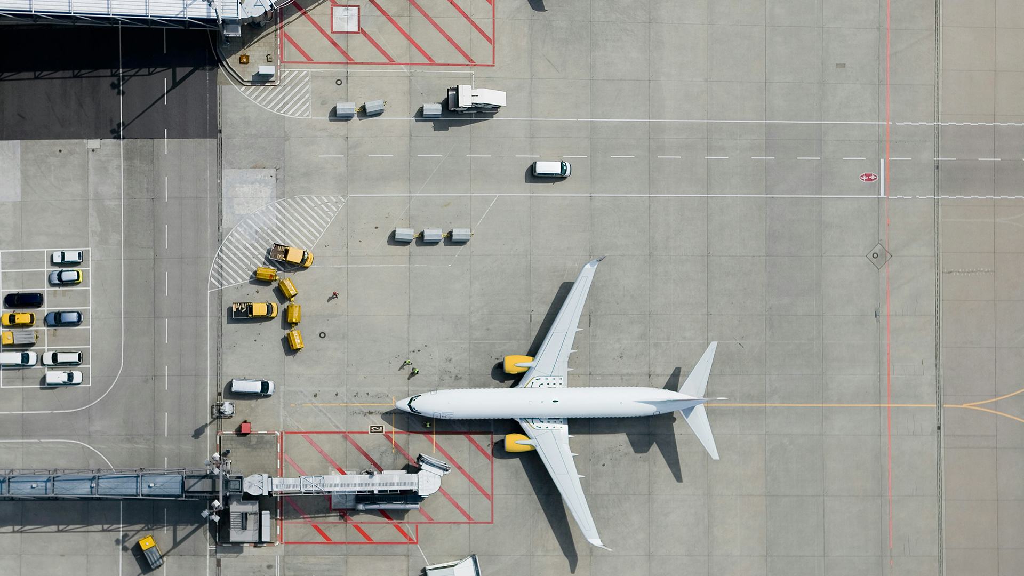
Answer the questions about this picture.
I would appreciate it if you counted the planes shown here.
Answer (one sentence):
In total, 1 plane can be seen.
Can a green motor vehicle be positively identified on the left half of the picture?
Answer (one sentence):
No, there's no green motor vehicle to be seen on the left half of the picture.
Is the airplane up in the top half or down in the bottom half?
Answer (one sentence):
You can find the airplane in the bottom half.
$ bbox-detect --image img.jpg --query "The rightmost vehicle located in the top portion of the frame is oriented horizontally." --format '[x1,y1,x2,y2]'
[533,160,572,179]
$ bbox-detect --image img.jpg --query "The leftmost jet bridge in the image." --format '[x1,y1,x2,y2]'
[236,0,296,27]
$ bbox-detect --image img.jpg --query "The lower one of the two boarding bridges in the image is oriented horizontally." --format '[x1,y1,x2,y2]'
[241,448,449,513]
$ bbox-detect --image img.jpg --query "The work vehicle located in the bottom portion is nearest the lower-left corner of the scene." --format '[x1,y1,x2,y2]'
[139,536,164,569]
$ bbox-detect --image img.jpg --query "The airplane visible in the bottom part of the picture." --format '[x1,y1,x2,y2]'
[396,254,726,548]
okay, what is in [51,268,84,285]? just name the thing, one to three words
car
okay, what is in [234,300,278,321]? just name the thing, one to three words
truck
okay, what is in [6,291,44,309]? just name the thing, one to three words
vehicle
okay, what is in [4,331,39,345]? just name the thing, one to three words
work vehicle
